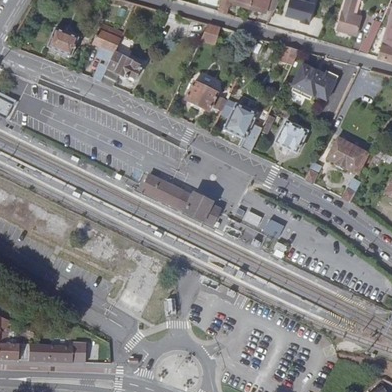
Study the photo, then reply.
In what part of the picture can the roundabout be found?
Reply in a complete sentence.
You can find the roundabout in the bottom area of the picture.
